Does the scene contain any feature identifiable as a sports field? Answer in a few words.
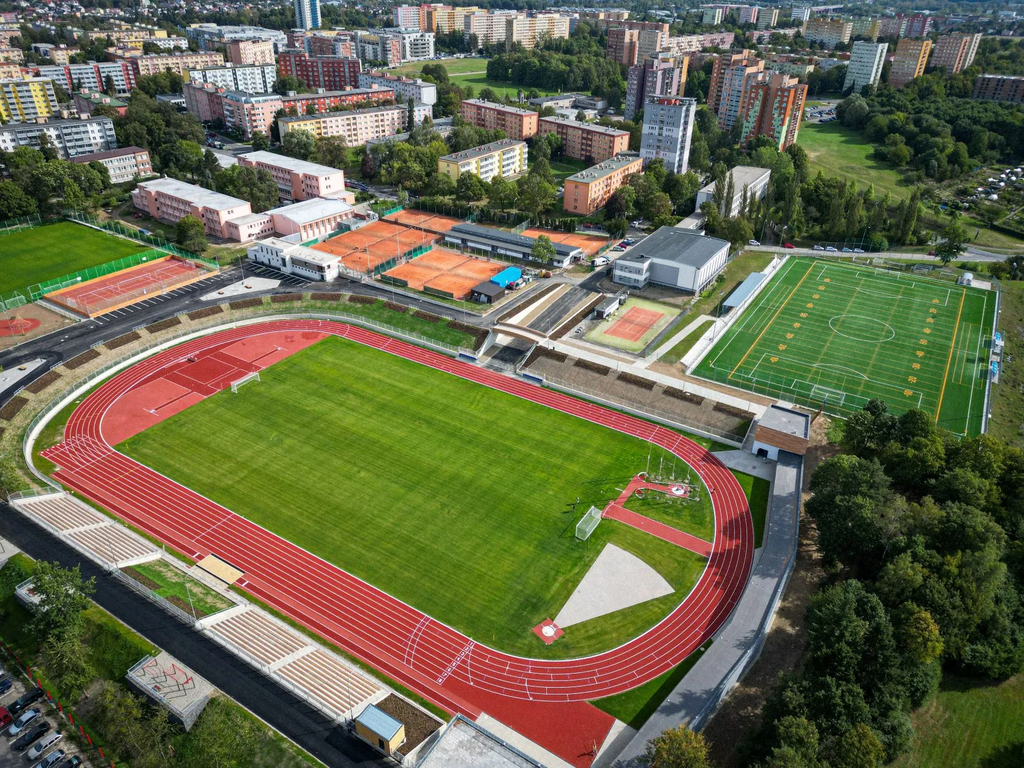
Yes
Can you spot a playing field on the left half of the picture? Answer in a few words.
Yes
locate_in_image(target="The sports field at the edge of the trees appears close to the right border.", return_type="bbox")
[688,256,997,438]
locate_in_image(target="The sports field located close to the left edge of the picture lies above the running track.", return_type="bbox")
[0,209,150,308]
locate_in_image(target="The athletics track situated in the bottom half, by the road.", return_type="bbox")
[37,319,754,768]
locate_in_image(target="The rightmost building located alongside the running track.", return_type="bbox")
[755,404,819,459]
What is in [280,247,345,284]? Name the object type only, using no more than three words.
building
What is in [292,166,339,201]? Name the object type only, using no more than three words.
building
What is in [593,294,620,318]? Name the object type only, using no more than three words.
shed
